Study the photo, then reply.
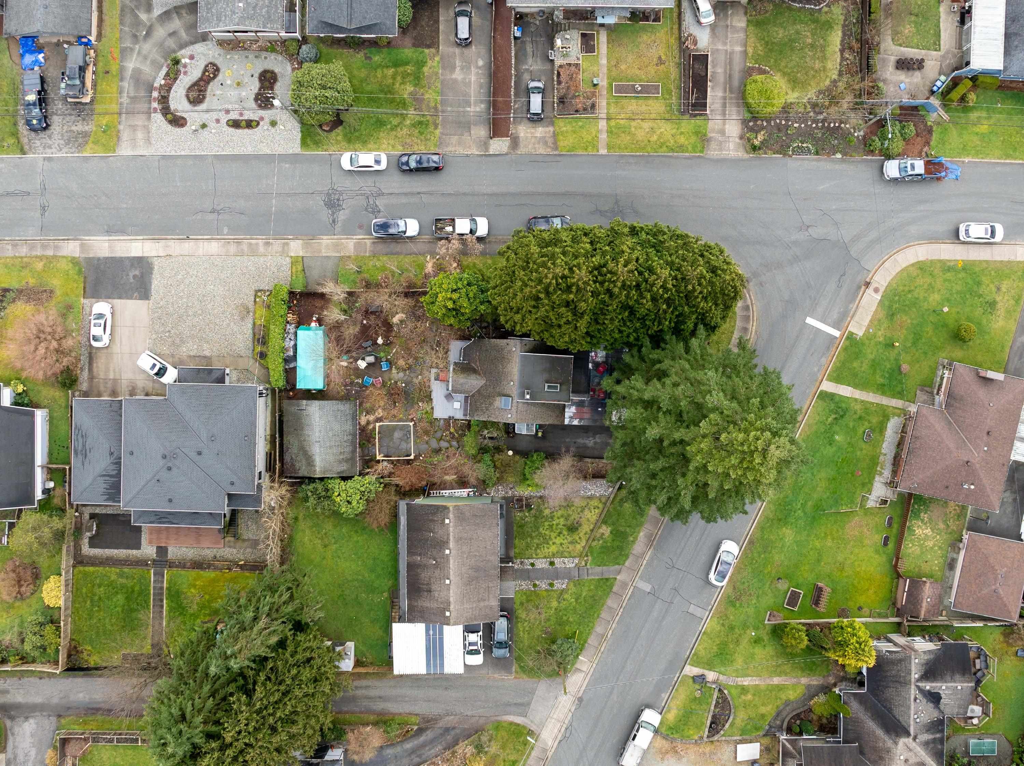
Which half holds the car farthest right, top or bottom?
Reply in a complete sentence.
You can find the car farthest right in the top half.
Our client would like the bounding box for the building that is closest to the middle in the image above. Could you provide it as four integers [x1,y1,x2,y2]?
[430,337,622,425]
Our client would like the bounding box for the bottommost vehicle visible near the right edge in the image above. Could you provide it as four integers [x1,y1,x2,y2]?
[954,221,1003,243]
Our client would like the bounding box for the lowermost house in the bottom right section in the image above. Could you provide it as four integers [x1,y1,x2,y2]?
[775,629,975,766]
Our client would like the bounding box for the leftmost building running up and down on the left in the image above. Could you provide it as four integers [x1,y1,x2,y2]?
[0,382,52,510]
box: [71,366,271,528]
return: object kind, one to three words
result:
house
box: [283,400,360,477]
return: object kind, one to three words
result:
building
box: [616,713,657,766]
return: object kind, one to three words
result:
truck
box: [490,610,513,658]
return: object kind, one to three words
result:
car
